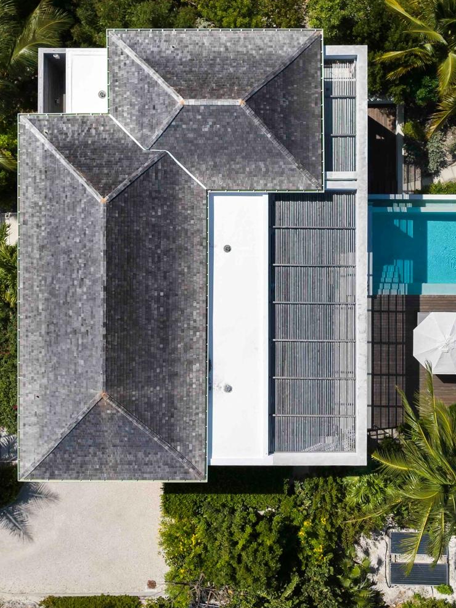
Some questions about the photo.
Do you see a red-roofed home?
No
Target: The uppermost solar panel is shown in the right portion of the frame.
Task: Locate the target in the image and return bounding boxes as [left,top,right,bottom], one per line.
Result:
[390,530,447,554]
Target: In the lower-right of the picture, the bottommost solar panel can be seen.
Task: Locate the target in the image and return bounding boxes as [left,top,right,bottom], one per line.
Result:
[390,560,448,586]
